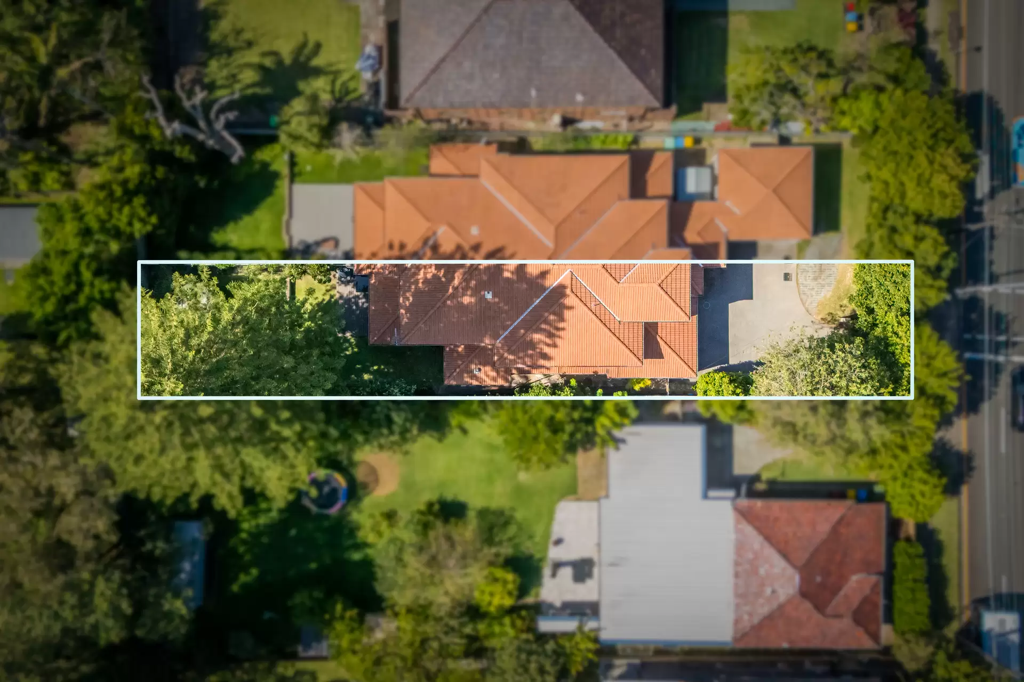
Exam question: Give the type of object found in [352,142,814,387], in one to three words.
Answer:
house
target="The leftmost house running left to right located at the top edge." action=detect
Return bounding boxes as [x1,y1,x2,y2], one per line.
[397,0,667,122]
